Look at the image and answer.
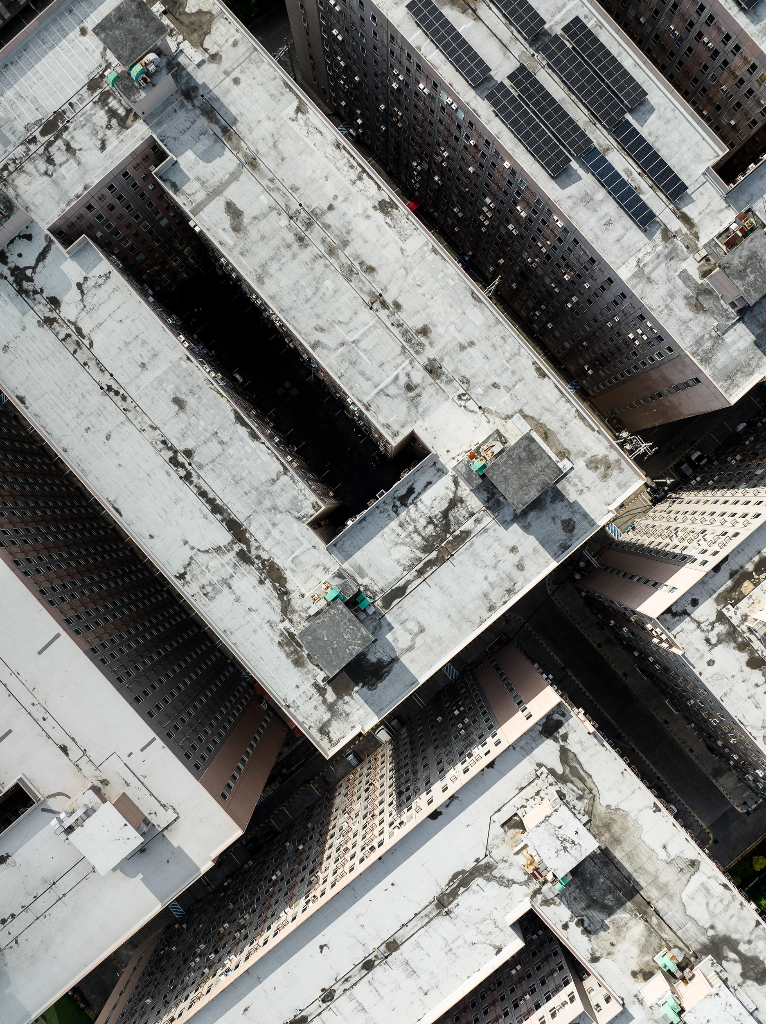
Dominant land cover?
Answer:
buildings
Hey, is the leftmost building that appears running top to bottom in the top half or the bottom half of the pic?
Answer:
bottom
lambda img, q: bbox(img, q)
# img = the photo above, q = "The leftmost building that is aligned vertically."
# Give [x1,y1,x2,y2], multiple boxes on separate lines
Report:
[0,406,286,1024]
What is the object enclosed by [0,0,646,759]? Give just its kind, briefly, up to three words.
building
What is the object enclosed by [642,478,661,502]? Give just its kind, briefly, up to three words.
car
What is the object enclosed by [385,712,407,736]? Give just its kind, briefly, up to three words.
car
